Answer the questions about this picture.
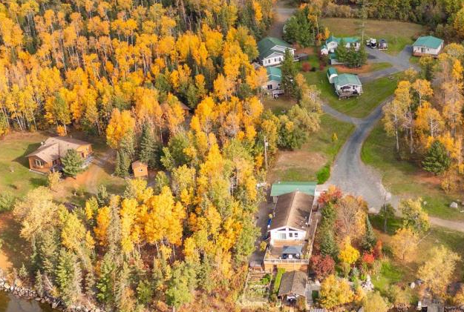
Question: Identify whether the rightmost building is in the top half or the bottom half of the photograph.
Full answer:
The rightmost building sits in the top half of the picture.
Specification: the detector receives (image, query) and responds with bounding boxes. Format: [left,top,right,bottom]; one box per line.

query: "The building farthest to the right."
[411,35,444,60]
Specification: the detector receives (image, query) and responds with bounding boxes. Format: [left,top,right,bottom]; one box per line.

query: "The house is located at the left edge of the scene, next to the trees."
[22,137,103,181]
